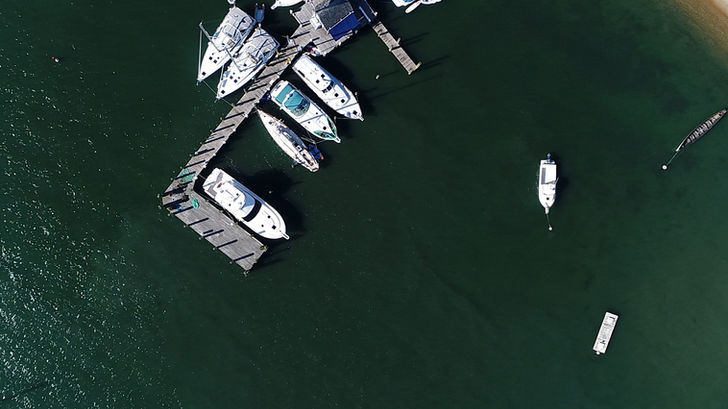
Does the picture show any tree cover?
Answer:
No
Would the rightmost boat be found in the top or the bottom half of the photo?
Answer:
top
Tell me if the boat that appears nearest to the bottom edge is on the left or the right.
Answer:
right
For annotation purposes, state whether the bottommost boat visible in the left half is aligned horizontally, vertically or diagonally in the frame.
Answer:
diagonally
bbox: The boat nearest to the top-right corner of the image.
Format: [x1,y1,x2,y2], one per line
[666,108,728,164]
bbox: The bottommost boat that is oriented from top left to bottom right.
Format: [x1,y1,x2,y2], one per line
[198,166,289,239]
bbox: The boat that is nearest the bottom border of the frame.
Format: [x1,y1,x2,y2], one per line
[594,312,619,354]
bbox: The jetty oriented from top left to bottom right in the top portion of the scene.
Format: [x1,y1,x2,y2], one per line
[373,21,420,78]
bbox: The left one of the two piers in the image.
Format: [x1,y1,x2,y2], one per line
[158,0,380,275]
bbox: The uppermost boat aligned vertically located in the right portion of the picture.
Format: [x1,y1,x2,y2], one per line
[539,154,560,228]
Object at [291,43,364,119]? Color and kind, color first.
white boat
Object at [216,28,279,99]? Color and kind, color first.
white boat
